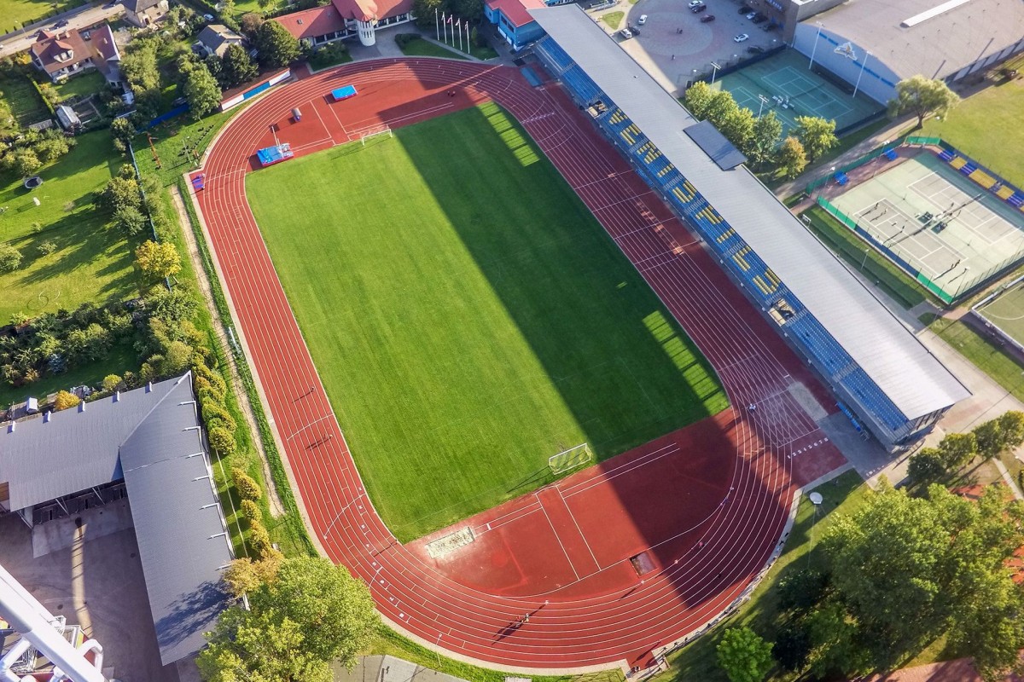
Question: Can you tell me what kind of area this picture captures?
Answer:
sports ground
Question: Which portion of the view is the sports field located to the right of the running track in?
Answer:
right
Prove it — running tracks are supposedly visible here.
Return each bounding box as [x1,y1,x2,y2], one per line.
[199,57,847,670]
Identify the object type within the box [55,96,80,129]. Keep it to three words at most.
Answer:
greenhouse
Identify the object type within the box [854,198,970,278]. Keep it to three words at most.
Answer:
tennis court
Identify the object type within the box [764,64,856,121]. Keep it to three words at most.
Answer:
tennis court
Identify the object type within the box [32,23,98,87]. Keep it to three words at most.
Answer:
house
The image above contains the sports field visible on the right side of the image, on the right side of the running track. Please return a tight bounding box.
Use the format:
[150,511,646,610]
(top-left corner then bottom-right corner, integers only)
[973,277,1024,347]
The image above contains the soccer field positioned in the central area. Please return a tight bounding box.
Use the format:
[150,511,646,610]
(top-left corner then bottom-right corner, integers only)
[245,100,730,543]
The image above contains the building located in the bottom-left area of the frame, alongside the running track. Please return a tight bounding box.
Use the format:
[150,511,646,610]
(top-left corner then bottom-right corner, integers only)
[0,369,247,663]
